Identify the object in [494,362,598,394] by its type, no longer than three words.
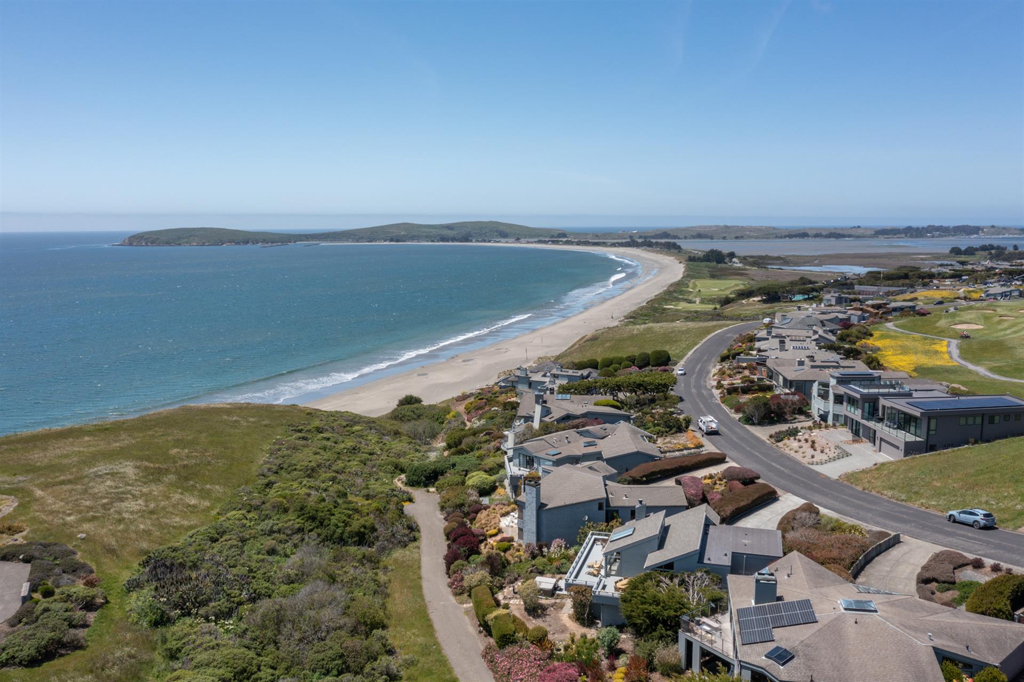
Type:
house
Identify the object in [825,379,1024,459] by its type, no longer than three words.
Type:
house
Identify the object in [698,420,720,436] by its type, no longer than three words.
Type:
vehicle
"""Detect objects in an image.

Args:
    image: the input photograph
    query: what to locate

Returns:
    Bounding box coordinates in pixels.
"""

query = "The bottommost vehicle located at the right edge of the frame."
[946,508,1000,531]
